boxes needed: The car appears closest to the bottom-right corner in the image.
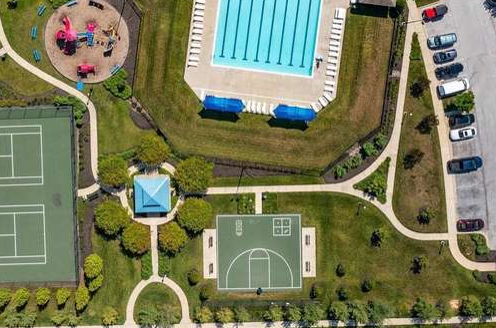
[455,219,484,232]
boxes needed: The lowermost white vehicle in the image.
[448,127,476,141]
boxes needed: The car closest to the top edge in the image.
[420,4,450,20]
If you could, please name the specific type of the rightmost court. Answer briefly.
basketball court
